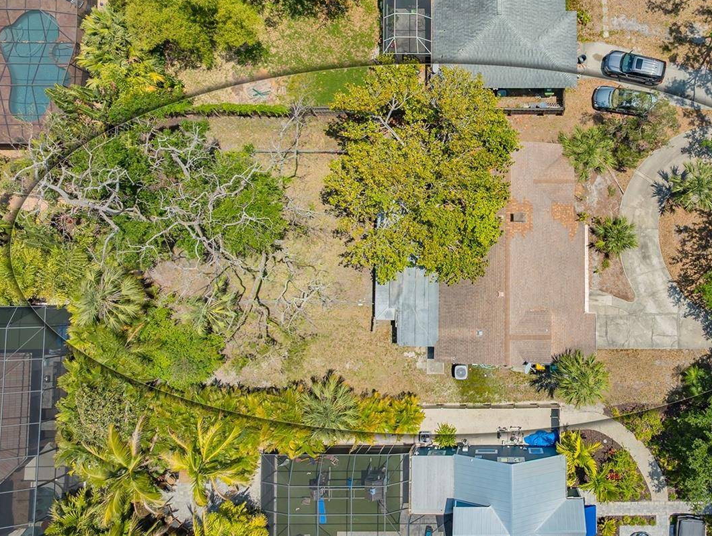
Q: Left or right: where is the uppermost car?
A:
right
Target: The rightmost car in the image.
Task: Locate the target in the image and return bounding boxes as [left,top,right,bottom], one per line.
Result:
[671,513,701,536]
